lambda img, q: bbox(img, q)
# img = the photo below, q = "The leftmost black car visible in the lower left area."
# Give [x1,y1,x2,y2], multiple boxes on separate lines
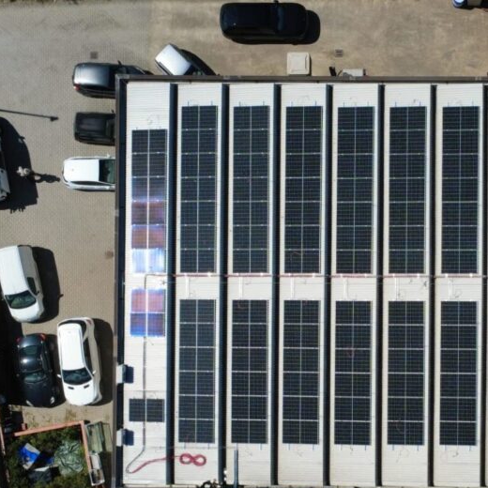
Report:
[16,331,58,409]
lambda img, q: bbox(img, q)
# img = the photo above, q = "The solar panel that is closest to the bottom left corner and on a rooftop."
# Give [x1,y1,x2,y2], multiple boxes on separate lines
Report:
[130,396,165,420]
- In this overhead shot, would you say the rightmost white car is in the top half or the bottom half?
top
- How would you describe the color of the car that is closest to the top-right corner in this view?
black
